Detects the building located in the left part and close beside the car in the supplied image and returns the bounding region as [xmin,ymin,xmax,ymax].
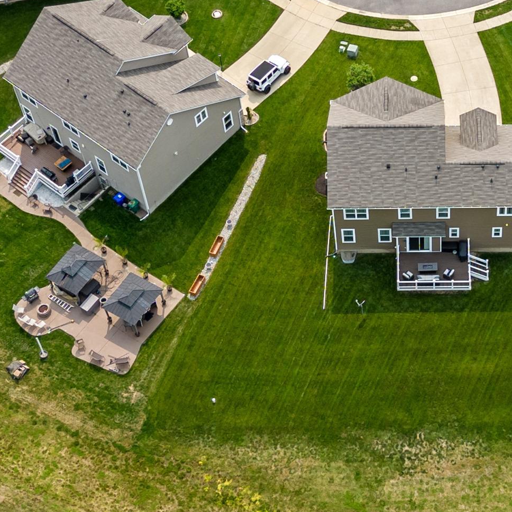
[4,0,248,217]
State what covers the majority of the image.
grass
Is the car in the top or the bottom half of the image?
top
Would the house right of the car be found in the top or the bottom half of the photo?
top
